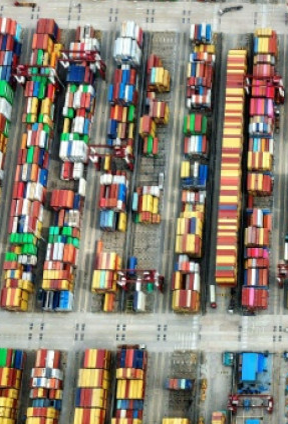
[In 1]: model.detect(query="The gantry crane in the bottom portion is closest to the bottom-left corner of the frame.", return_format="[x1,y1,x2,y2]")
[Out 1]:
[117,269,164,291]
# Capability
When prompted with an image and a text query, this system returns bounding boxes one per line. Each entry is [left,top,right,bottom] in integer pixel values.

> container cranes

[57,50,106,77]
[88,145,135,170]
[249,76,285,103]
[231,392,272,413]
[117,269,164,291]
[14,64,64,92]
